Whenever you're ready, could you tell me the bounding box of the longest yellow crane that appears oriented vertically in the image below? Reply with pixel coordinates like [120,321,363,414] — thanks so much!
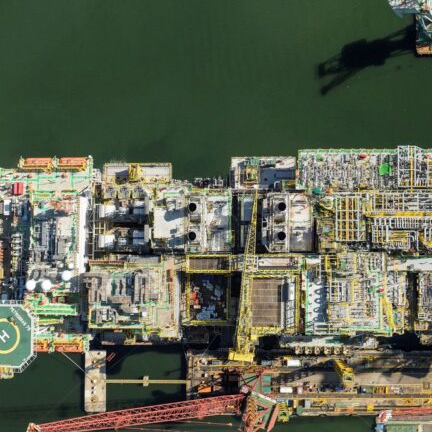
[229,189,265,366]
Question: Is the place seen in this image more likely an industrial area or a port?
port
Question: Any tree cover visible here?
No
